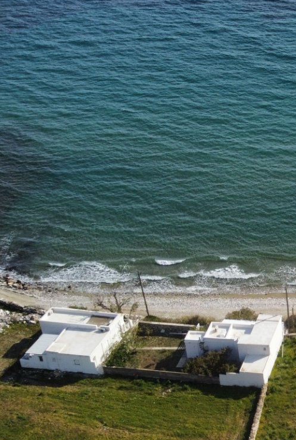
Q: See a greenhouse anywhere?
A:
No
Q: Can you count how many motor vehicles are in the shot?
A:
zero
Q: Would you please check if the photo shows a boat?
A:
No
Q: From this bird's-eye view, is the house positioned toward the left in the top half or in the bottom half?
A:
bottom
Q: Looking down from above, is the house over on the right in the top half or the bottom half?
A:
bottom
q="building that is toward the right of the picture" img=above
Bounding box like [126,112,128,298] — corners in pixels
[176,313,284,383]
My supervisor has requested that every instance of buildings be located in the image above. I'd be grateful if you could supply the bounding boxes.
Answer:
[176,313,284,383]
[19,308,134,373]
